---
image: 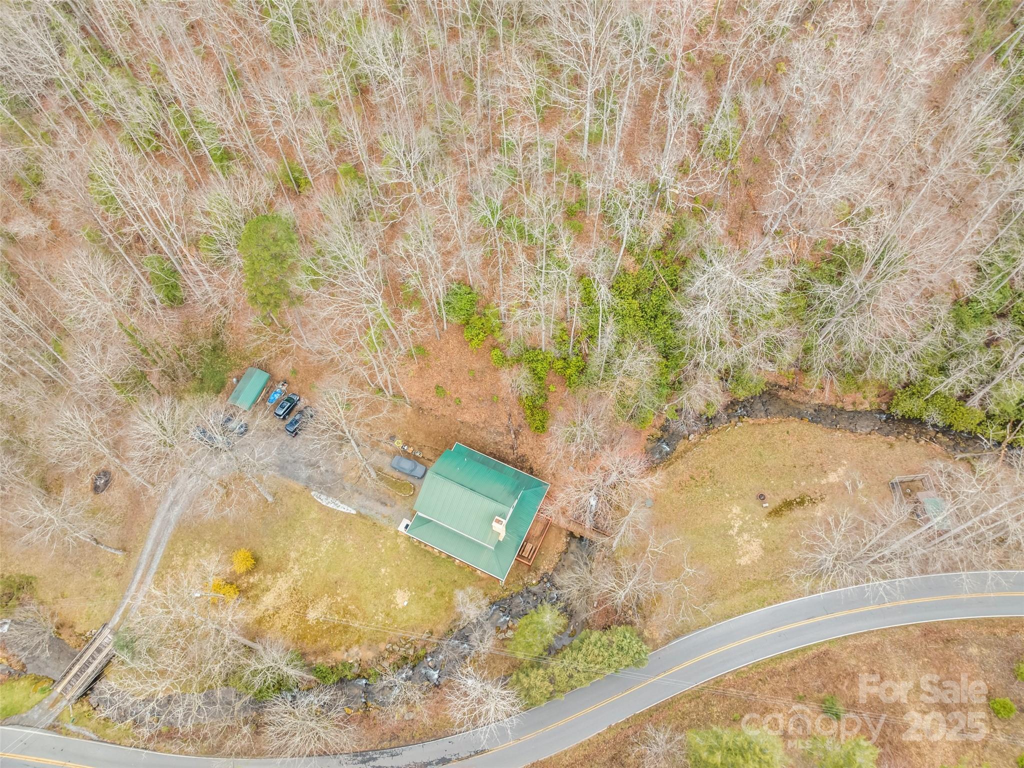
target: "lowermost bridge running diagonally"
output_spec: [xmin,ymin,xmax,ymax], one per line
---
[47,621,126,706]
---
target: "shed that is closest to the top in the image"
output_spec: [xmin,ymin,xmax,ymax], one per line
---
[226,368,274,417]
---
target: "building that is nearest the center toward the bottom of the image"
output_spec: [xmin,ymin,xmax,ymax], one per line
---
[405,442,551,586]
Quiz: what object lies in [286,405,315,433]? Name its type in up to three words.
car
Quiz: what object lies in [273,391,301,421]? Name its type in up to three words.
car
